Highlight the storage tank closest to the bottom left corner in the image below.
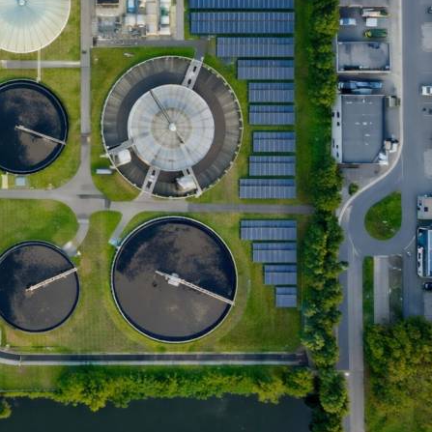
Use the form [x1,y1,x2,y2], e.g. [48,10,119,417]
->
[0,241,80,333]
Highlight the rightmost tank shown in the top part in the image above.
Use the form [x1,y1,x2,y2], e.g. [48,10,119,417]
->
[101,55,244,199]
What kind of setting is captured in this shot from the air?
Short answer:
industrial area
